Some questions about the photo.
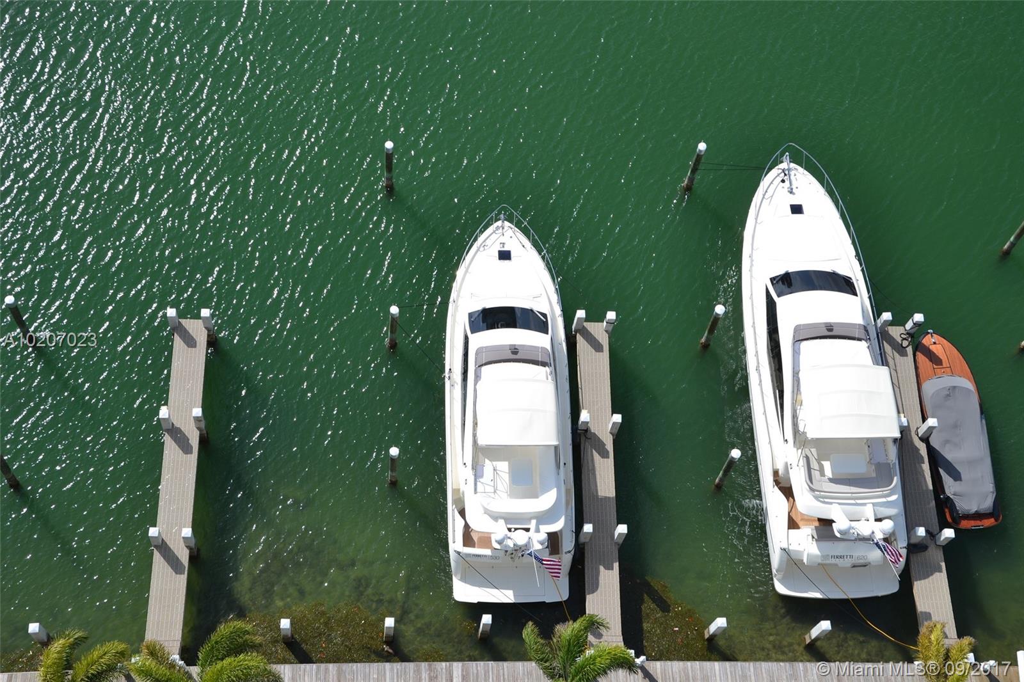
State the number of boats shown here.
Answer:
3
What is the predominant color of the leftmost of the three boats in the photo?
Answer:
white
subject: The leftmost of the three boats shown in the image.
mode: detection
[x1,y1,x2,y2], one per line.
[445,206,574,604]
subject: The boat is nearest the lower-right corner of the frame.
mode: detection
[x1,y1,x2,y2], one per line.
[915,328,998,533]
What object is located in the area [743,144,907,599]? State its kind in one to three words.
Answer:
boat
